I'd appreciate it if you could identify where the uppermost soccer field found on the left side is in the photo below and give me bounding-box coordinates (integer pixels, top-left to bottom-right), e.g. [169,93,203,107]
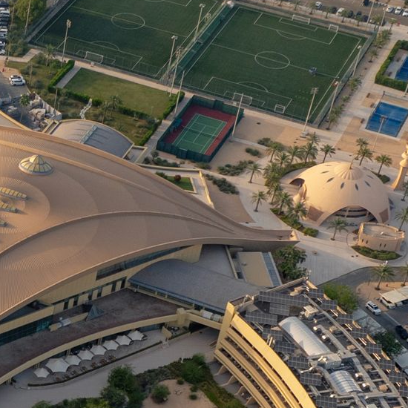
[27,0,224,81]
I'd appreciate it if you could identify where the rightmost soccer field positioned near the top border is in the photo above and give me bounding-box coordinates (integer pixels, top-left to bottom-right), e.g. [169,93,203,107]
[183,3,370,124]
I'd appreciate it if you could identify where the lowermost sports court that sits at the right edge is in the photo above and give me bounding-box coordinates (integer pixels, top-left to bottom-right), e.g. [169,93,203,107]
[363,100,408,138]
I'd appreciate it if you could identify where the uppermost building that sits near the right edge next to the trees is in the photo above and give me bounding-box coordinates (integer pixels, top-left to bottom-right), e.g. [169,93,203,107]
[298,155,395,220]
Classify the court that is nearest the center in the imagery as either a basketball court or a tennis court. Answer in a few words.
tennis court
